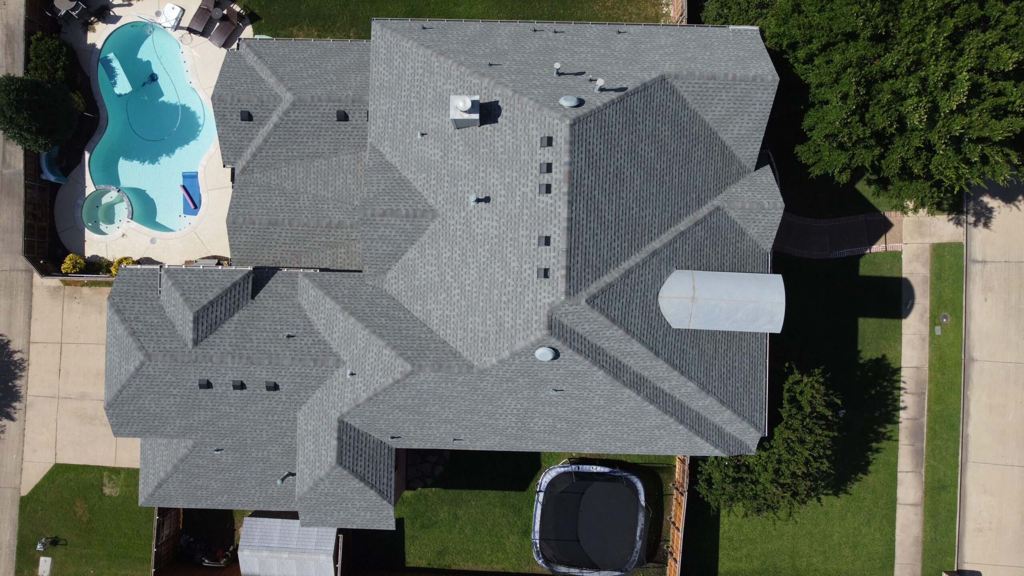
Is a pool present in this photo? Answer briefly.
Yes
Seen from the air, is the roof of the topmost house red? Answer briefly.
No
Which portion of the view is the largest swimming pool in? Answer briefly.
top left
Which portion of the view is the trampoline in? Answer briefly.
bottom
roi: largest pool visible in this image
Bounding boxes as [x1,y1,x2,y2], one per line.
[78,14,220,239]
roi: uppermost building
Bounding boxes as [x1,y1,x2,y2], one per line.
[103,16,785,529]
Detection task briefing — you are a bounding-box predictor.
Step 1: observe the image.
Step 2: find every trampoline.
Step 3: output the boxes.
[527,458,653,576]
